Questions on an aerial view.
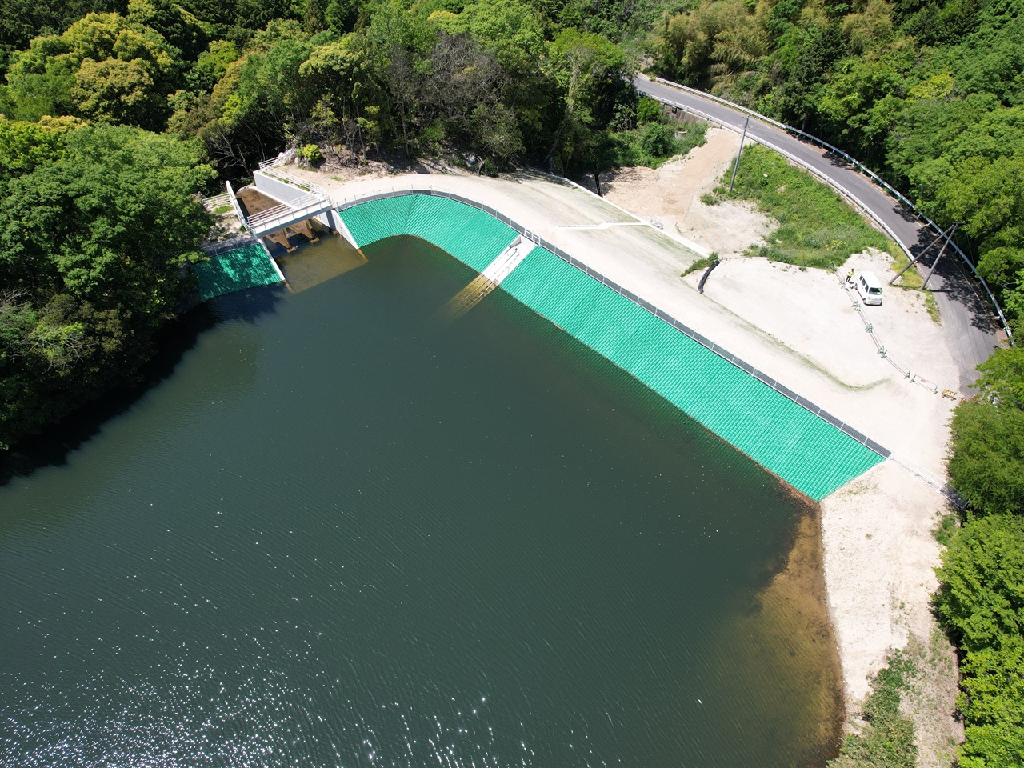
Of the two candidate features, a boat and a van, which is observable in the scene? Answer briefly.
van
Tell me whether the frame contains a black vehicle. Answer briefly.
No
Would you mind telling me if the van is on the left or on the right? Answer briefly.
right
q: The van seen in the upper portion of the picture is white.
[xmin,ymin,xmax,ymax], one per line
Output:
[856,268,889,303]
